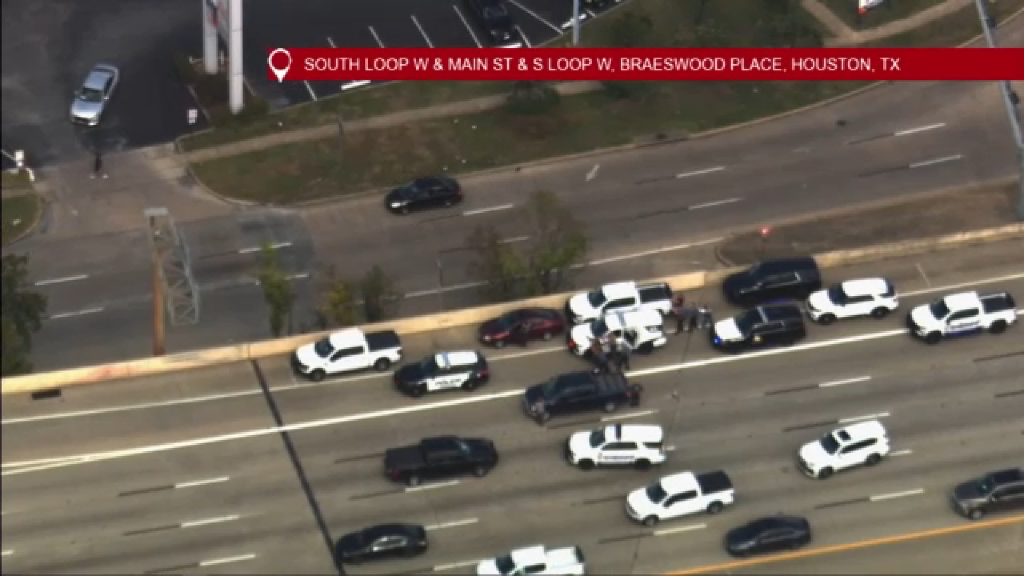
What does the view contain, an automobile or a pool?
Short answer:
automobile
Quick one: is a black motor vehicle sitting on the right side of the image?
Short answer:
Yes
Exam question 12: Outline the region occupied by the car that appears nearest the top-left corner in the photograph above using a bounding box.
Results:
[71,70,119,126]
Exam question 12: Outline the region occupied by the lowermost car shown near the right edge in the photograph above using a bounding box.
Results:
[950,470,1024,520]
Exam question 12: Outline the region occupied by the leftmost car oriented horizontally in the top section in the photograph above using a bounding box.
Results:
[384,179,465,216]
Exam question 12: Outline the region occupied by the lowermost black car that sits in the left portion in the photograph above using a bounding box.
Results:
[334,523,431,566]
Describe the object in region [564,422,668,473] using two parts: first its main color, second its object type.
white car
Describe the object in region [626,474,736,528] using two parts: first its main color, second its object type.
white truck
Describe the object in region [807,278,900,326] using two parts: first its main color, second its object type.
white car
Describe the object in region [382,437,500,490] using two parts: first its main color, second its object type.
black truck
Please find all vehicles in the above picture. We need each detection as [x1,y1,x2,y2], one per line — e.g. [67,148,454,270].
[798,424,891,478]
[382,437,500,490]
[807,278,900,326]
[711,304,806,354]
[384,179,465,216]
[626,474,736,528]
[564,422,668,473]
[455,0,516,48]
[478,310,567,353]
[476,548,589,576]
[394,349,490,399]
[71,70,119,126]
[950,470,1024,520]
[722,253,823,307]
[334,523,431,566]
[906,293,1018,346]
[723,517,815,560]
[565,283,674,328]
[567,308,668,362]
[290,331,403,383]
[523,371,633,423]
